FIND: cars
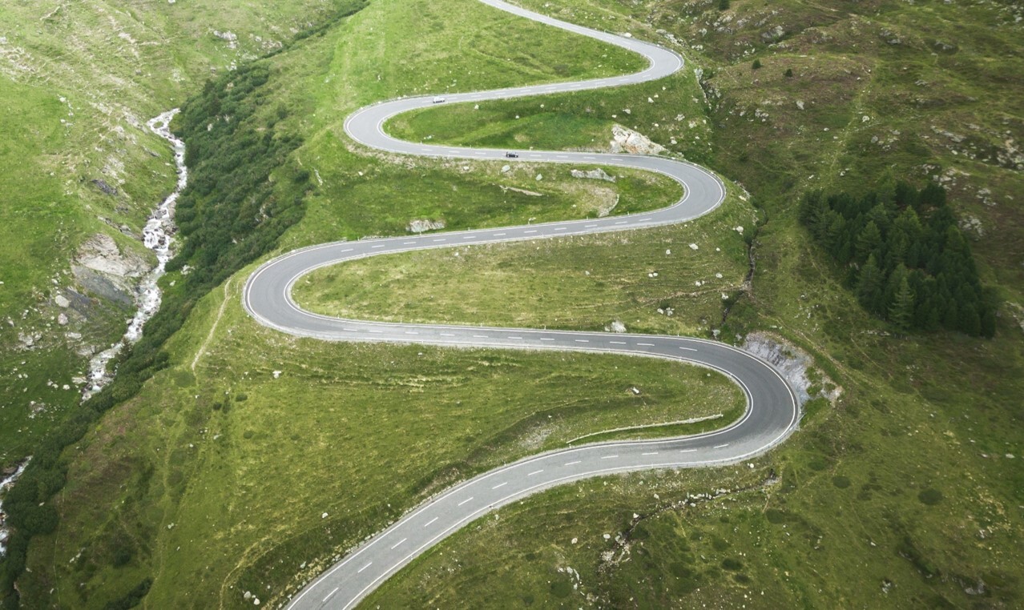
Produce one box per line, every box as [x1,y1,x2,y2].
[432,96,444,102]
[505,151,518,157]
